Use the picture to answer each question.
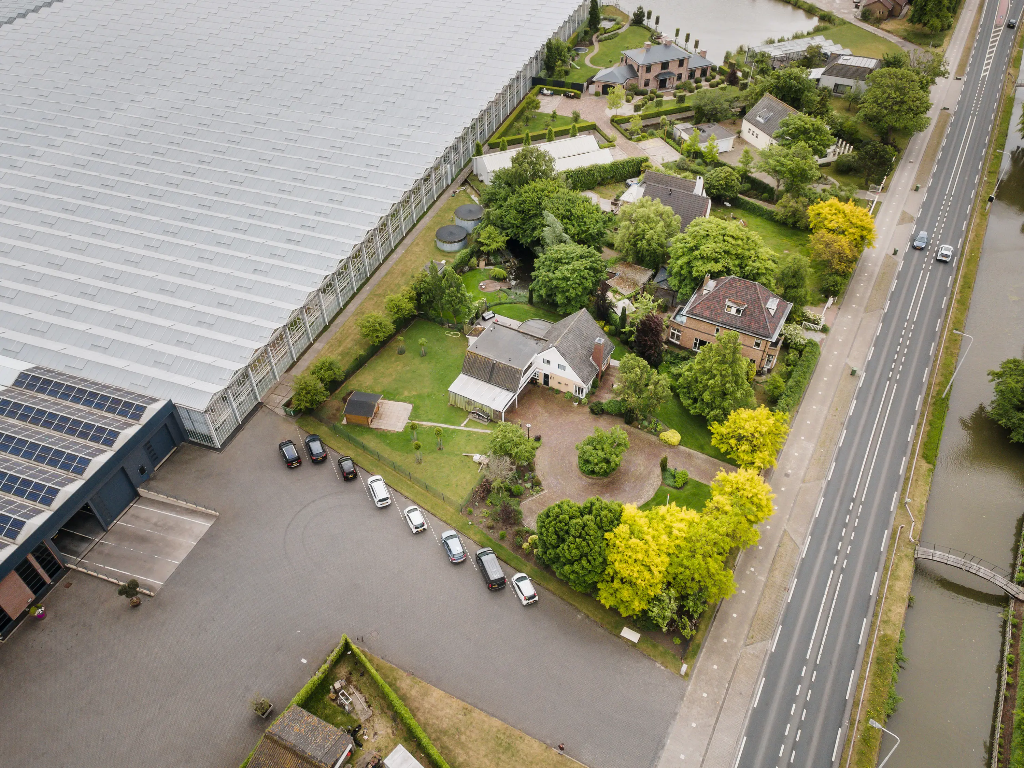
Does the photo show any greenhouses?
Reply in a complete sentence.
Yes, a greenhouse appears in the view.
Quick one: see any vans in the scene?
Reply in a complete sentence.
Yes, there is a van in the image.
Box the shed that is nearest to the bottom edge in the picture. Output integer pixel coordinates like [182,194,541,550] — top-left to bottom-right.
[250,705,355,768]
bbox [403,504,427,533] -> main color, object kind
white car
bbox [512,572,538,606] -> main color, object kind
white car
